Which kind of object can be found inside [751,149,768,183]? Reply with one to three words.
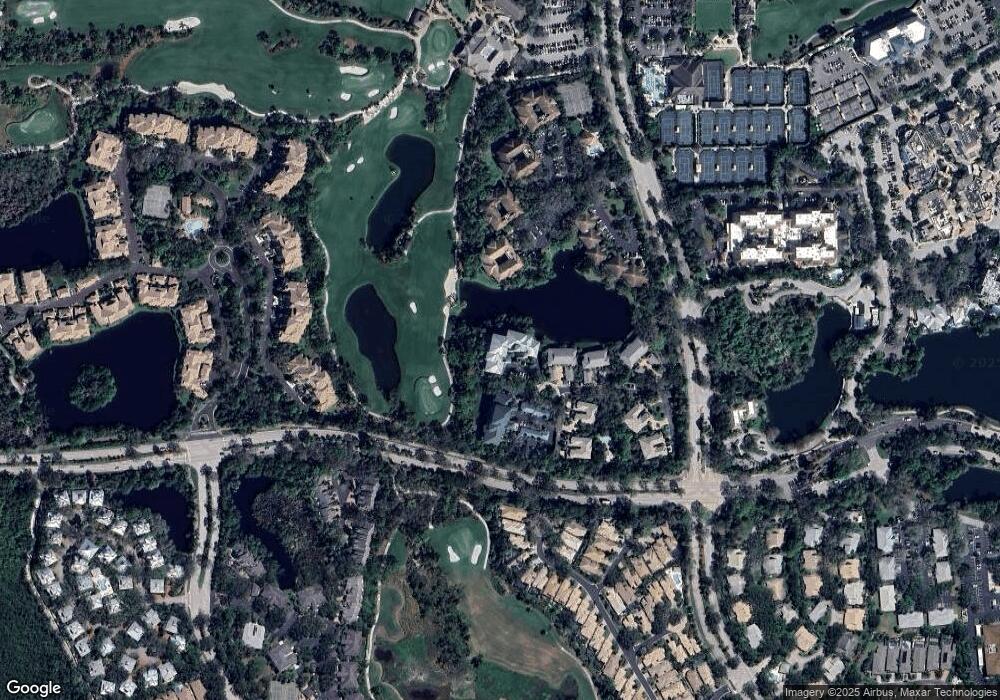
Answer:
tennis court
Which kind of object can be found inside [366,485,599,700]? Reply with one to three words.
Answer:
golf course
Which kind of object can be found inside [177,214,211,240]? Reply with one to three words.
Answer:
swimming pool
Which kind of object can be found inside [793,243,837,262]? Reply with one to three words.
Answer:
building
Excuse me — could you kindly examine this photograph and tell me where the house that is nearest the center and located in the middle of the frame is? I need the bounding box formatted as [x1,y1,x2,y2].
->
[484,328,543,376]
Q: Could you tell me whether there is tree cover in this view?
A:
Yes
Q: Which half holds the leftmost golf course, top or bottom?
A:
top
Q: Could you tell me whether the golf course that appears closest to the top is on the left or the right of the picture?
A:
right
